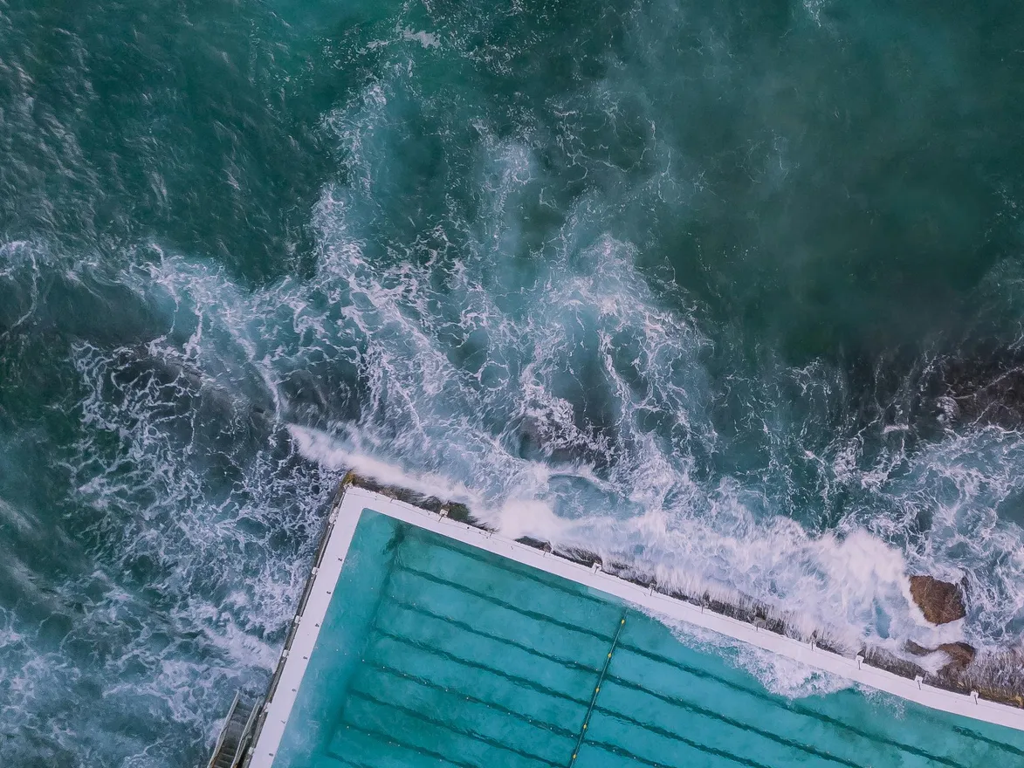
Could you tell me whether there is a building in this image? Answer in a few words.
No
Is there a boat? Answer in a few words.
No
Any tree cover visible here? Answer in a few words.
No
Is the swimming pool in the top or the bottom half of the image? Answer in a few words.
bottom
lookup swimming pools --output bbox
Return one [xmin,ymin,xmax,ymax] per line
[272,511,1024,768]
